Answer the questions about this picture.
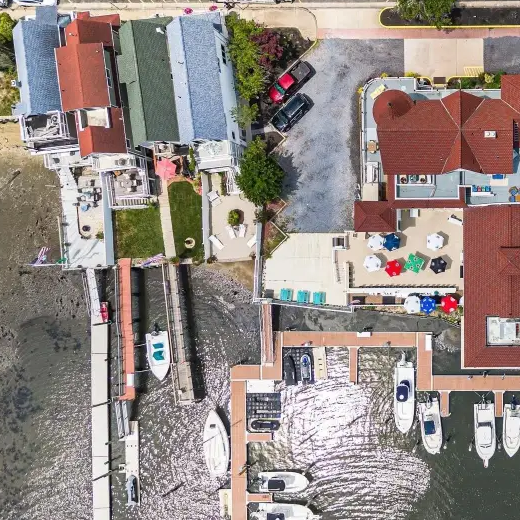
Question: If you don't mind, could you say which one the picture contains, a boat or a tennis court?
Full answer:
Visible in the photo is a boat.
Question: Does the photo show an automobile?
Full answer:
Yes, the photo shows an automobile.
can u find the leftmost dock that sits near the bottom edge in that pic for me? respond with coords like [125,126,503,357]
[91,322,112,520]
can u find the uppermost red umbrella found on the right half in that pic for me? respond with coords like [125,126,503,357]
[385,259,402,276]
